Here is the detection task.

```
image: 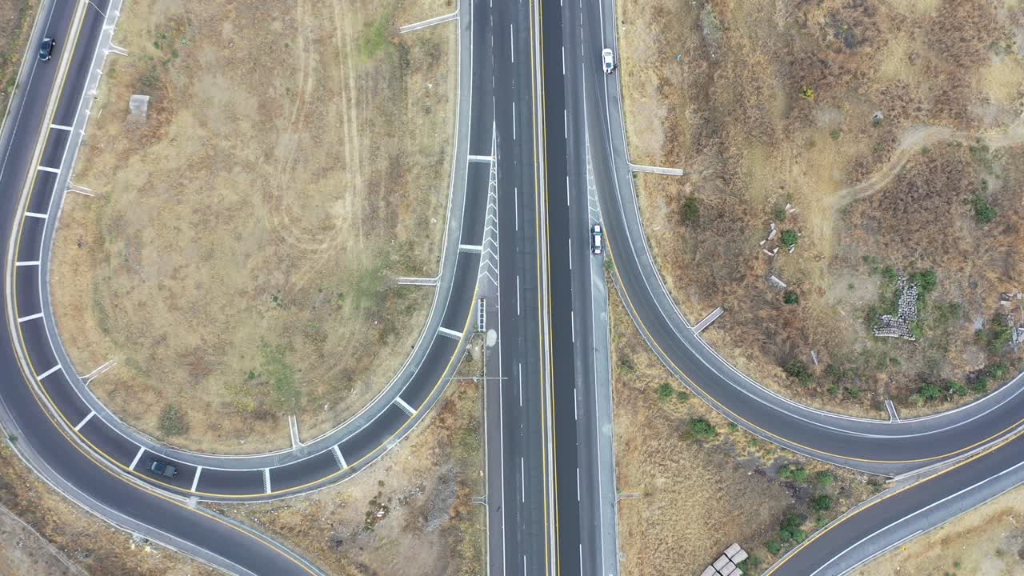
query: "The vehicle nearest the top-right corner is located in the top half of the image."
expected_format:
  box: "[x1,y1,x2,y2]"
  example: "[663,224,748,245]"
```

[603,49,615,71]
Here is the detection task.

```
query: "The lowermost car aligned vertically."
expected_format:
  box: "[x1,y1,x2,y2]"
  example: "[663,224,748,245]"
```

[591,226,604,252]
